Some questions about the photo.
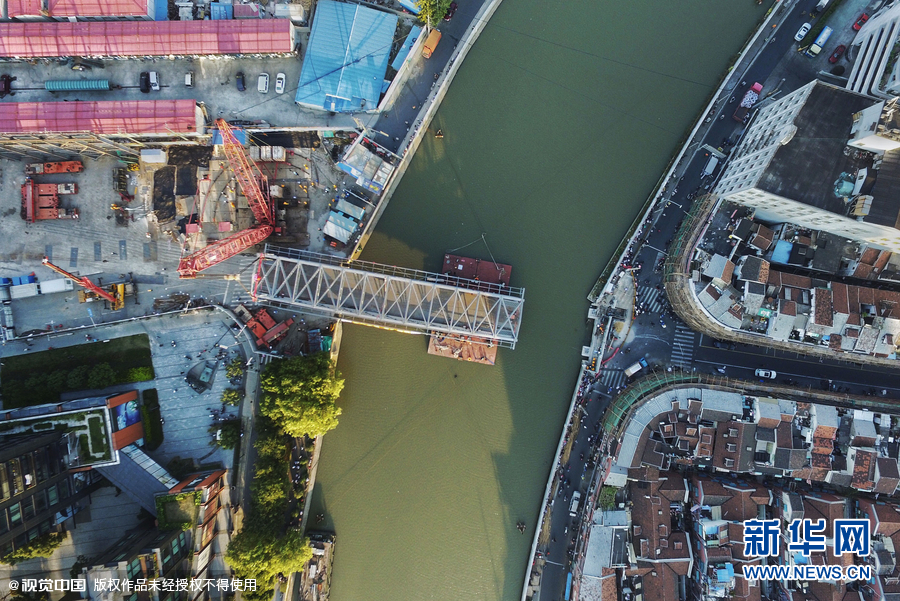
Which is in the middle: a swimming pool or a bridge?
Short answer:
bridge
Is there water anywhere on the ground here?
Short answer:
Yes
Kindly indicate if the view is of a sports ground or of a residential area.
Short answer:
residential area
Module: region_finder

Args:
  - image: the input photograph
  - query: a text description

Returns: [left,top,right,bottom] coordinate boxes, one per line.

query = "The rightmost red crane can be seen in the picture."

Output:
[171,114,294,281]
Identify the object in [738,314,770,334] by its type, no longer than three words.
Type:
house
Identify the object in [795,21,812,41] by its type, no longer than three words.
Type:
car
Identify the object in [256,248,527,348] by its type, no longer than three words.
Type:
bridge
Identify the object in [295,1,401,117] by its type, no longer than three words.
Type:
building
